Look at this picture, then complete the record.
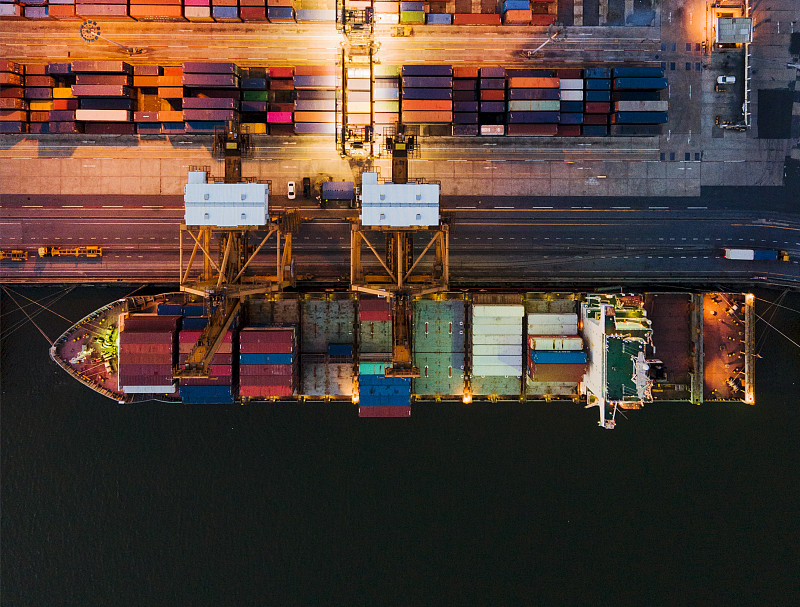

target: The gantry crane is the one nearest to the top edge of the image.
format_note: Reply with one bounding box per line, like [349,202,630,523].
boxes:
[336,0,387,49]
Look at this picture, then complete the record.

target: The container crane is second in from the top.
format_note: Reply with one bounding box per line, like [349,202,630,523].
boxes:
[336,41,387,162]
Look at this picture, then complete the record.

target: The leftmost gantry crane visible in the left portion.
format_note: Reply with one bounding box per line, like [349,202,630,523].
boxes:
[169,118,323,375]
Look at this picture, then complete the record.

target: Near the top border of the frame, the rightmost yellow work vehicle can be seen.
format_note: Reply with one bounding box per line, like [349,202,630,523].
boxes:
[385,26,412,38]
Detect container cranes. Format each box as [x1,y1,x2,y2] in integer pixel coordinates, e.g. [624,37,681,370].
[336,41,387,162]
[333,119,463,374]
[169,118,323,375]
[336,0,387,49]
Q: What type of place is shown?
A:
port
